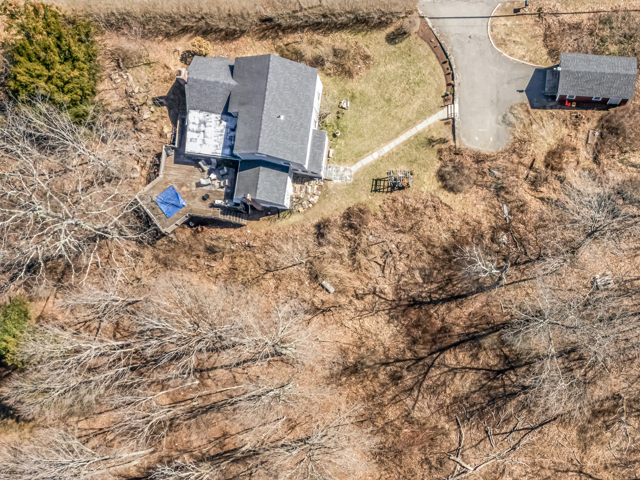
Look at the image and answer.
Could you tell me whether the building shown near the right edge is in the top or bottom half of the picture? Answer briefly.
top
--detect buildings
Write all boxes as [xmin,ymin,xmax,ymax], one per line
[175,51,329,213]
[541,53,640,109]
